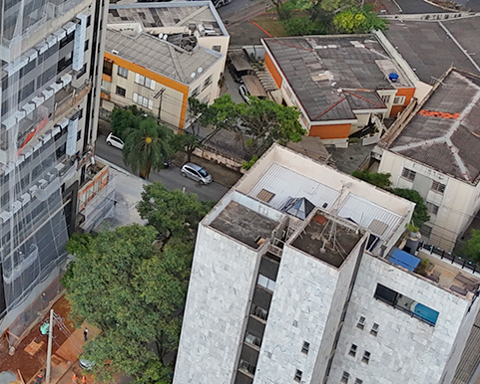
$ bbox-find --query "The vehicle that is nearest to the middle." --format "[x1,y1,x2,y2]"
[180,163,214,187]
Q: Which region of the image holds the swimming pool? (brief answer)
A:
bottom right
